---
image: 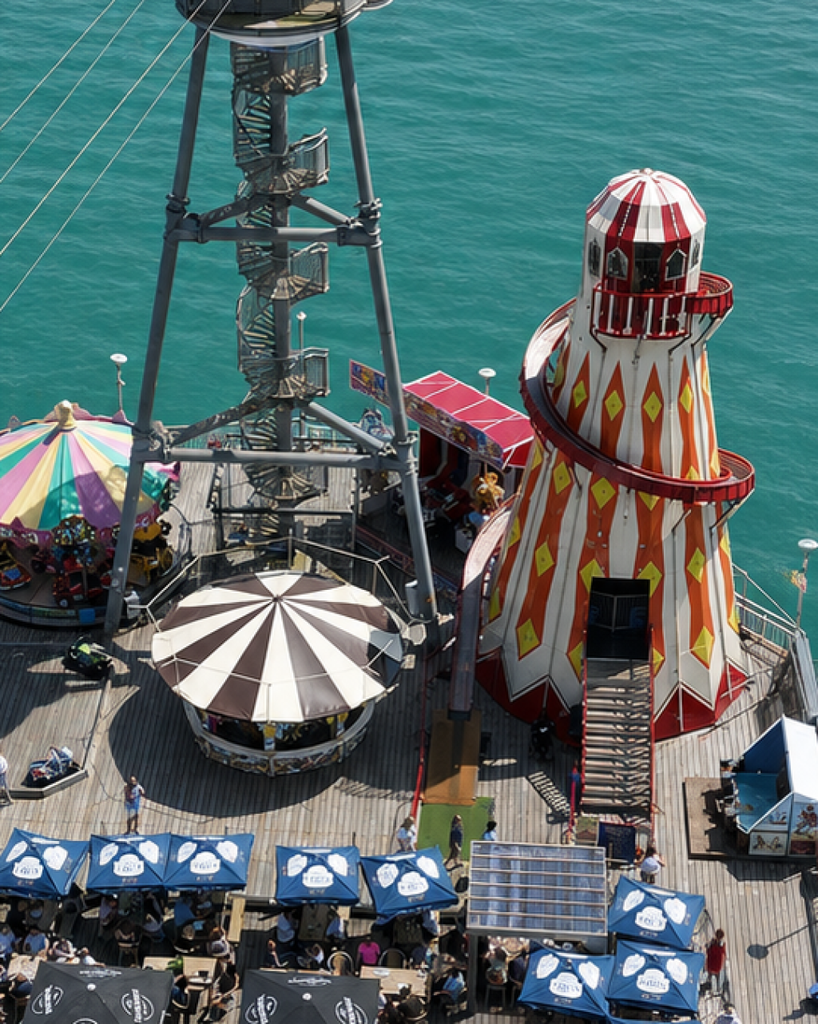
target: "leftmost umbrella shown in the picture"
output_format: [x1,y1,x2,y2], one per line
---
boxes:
[0,831,85,909]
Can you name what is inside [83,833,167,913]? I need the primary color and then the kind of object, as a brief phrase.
blue umbrella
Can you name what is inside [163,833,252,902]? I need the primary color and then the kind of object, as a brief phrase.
blue umbrella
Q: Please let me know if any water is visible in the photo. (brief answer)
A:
Yes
